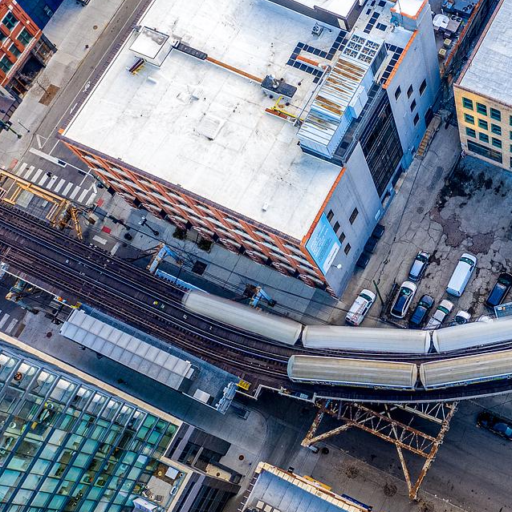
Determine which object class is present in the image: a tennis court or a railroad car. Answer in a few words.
railroad car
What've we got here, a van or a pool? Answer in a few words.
van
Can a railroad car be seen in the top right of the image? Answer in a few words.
No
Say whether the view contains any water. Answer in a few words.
No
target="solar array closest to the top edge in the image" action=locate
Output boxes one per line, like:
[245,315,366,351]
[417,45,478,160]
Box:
[363,0,389,33]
